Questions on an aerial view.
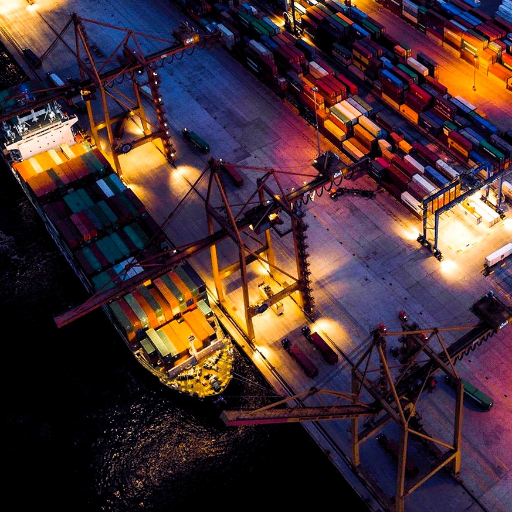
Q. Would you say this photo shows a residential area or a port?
port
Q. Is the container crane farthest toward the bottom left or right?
right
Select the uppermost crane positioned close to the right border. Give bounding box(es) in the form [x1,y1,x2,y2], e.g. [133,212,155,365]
[412,157,511,260]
